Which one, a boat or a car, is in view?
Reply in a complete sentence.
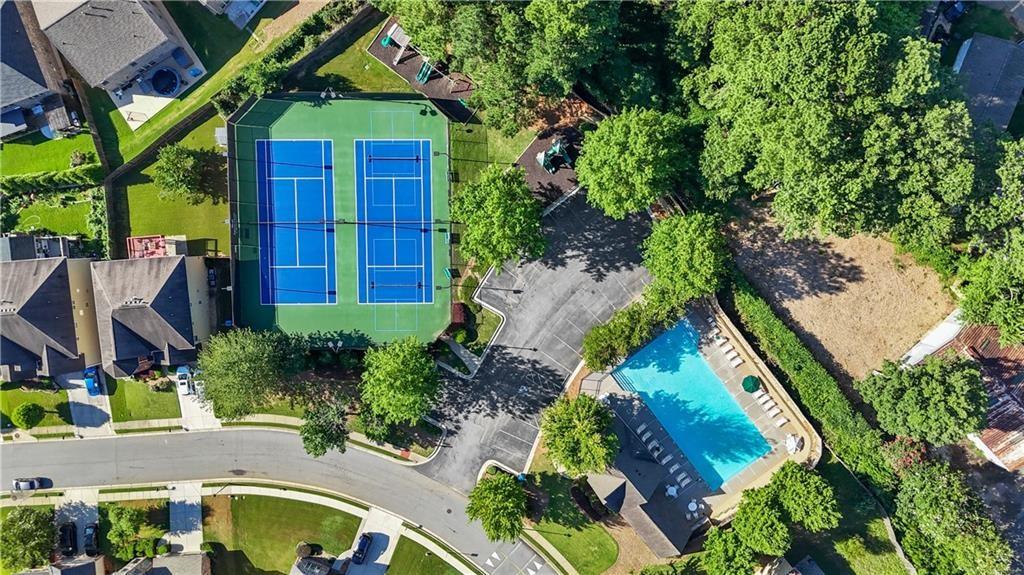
This aerial view contains a car.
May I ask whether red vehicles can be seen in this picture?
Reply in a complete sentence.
No, this view has no red vehicle in it.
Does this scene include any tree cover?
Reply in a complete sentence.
Yes, some tree cover is visible.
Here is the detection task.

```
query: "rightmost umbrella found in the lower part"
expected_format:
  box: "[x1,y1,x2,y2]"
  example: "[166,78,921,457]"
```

[742,374,760,393]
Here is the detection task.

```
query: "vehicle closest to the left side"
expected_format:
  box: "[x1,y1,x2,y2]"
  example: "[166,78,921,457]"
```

[6,478,39,494]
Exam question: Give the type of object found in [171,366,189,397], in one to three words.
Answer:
car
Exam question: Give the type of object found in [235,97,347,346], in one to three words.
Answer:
tennis court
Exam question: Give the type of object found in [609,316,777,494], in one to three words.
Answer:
swimming pool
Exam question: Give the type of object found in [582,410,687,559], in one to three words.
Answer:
building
